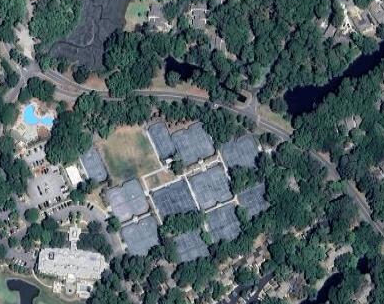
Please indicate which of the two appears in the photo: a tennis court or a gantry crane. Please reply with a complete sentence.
This aerial view contains a tennis court.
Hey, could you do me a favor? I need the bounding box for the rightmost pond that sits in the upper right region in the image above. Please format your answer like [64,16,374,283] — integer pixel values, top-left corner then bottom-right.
[286,42,384,113]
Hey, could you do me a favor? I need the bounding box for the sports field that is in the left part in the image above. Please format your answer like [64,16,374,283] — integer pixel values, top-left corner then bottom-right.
[103,125,162,185]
